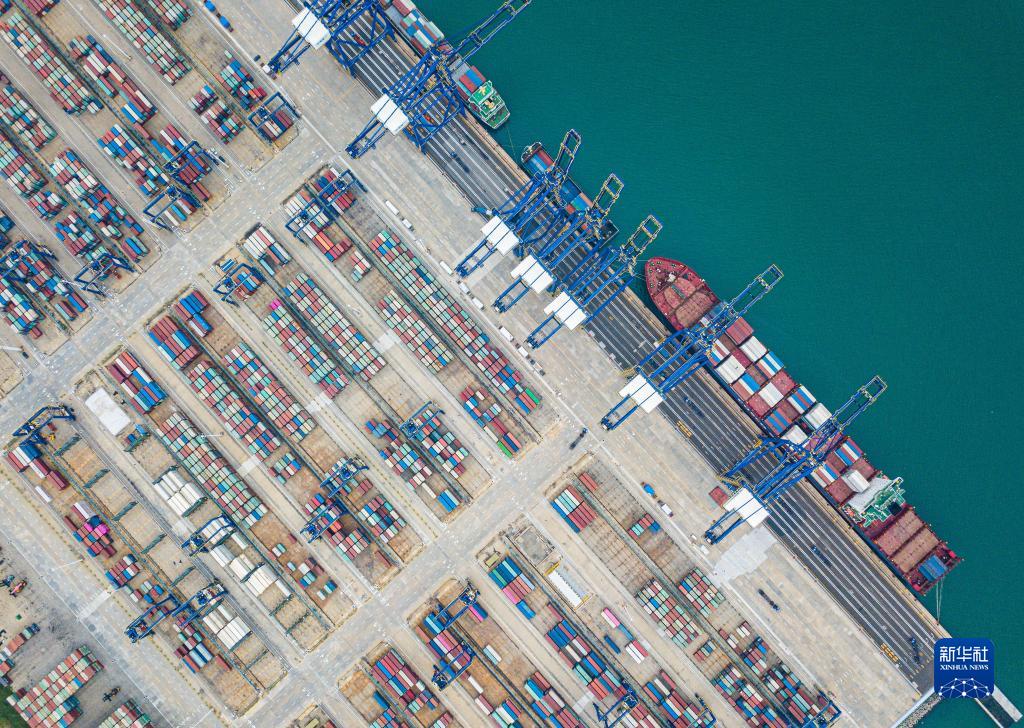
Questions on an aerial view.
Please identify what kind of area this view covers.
port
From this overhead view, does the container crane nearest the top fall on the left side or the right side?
left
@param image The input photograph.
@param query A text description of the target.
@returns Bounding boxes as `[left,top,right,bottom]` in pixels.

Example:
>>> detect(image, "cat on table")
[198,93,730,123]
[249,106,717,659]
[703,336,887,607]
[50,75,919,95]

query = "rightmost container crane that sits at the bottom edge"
[784,685,840,728]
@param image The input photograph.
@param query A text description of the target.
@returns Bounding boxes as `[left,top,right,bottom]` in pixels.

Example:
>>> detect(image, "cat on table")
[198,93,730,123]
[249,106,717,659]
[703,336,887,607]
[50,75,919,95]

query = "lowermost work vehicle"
[93,686,116,708]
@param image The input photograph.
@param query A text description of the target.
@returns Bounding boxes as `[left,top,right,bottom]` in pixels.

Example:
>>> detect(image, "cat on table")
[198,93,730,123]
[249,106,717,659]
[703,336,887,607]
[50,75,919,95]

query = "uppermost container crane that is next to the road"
[268,0,396,73]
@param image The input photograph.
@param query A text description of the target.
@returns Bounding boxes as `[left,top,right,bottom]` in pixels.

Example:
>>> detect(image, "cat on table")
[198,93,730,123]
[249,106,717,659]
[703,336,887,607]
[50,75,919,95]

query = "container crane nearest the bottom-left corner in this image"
[115,591,185,652]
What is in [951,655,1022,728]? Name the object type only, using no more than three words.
pier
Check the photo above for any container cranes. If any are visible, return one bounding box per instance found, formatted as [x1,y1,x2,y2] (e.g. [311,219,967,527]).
[115,591,185,652]
[215,263,268,307]
[784,685,840,728]
[490,174,625,314]
[176,511,239,565]
[592,676,639,728]
[74,251,136,298]
[144,183,200,231]
[317,169,367,218]
[524,216,664,351]
[345,0,529,155]
[320,452,372,498]
[287,201,337,248]
[0,238,59,282]
[426,636,475,692]
[398,399,445,441]
[163,140,219,189]
[597,261,785,433]
[701,374,890,548]
[176,575,237,630]
[268,0,396,73]
[248,92,299,143]
[664,693,715,728]
[14,400,79,444]
[435,576,483,629]
[298,497,350,545]
[455,130,585,276]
